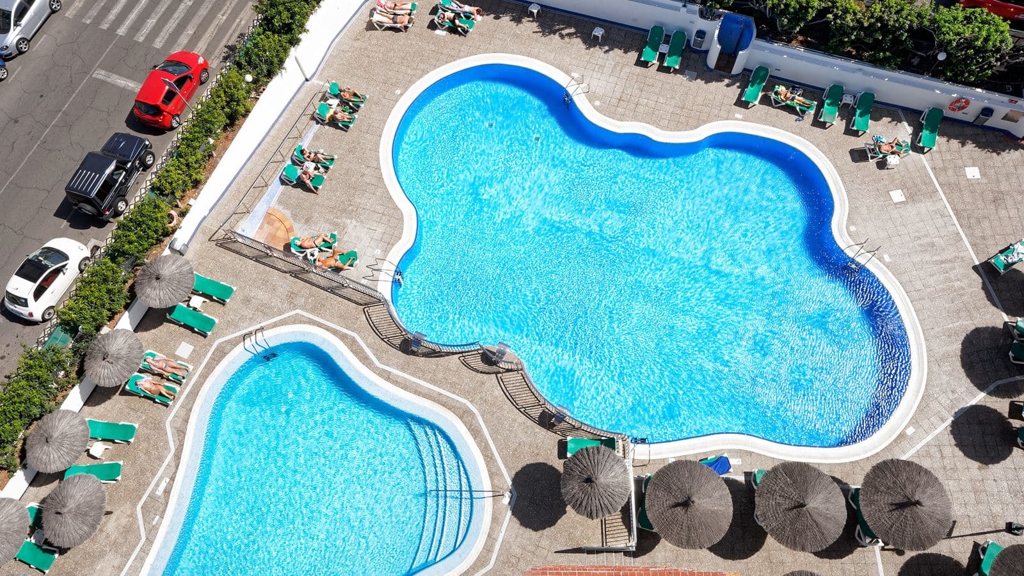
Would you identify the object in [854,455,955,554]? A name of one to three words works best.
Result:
umbrella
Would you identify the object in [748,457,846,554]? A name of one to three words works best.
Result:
umbrella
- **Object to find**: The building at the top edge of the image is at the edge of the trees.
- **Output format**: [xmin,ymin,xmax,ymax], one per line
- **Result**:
[708,9,762,78]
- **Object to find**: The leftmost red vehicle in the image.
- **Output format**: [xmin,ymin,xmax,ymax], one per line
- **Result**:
[128,52,209,133]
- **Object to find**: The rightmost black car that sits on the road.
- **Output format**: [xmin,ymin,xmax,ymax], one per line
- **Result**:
[64,136,154,215]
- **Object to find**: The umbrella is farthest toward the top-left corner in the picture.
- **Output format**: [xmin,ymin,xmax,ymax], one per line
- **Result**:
[134,254,194,311]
